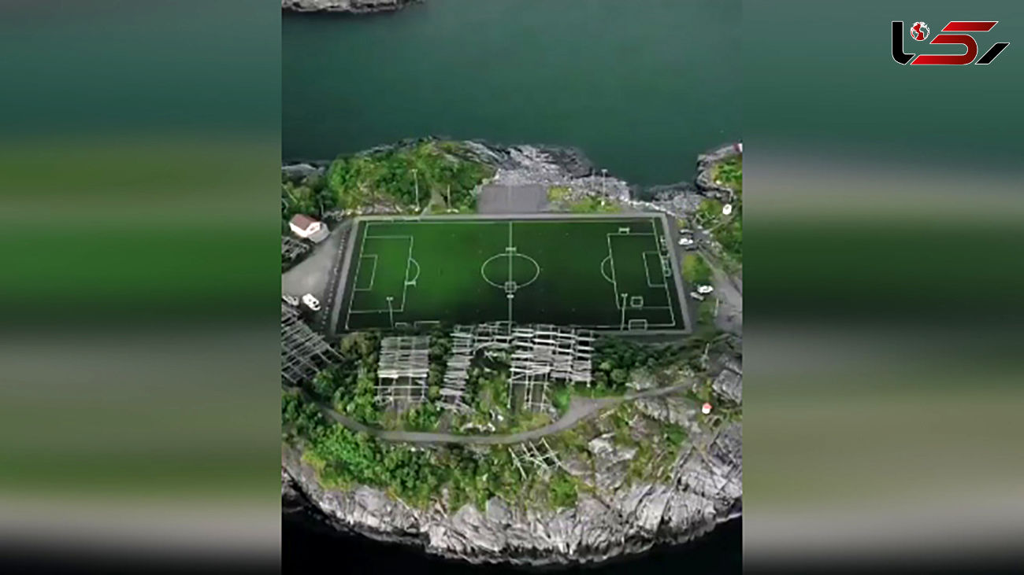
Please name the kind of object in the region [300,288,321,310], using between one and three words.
camper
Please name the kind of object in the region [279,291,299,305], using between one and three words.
vehicle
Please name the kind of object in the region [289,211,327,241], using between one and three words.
house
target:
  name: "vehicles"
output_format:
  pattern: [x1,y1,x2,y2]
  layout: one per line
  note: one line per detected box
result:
[685,245,699,252]
[697,285,714,295]
[679,240,694,246]
[689,292,706,301]
[279,291,299,305]
[300,288,321,310]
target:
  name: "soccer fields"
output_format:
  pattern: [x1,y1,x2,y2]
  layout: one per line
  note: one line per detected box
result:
[328,213,691,335]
